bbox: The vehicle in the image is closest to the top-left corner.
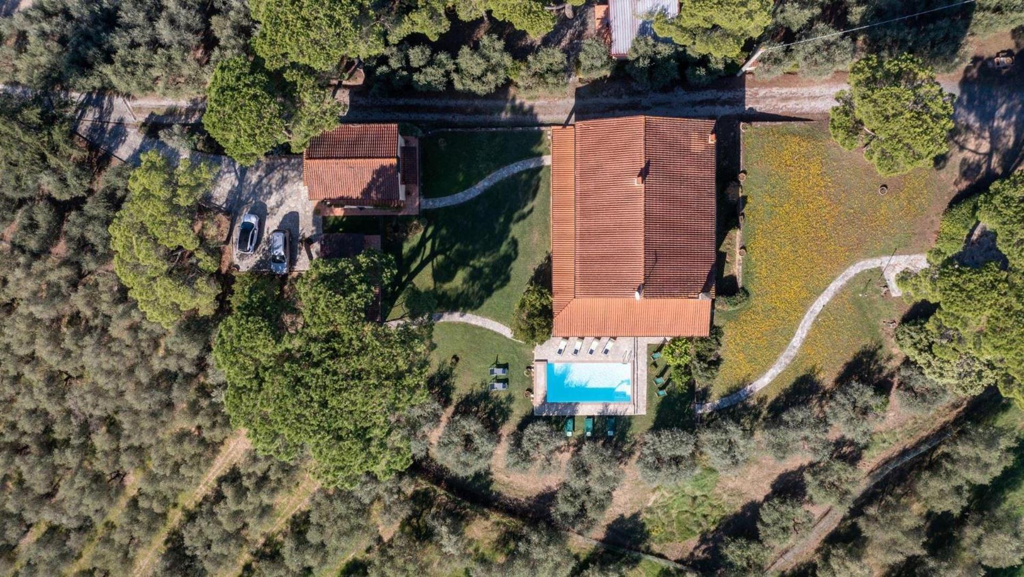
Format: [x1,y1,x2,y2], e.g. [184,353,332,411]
[237,214,260,253]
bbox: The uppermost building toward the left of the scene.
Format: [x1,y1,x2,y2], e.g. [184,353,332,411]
[299,123,419,212]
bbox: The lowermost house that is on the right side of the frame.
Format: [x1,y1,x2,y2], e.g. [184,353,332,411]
[550,109,716,337]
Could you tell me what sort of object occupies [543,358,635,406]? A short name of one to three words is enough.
swimming pool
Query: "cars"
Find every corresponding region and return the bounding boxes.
[268,230,290,273]
[237,214,260,253]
